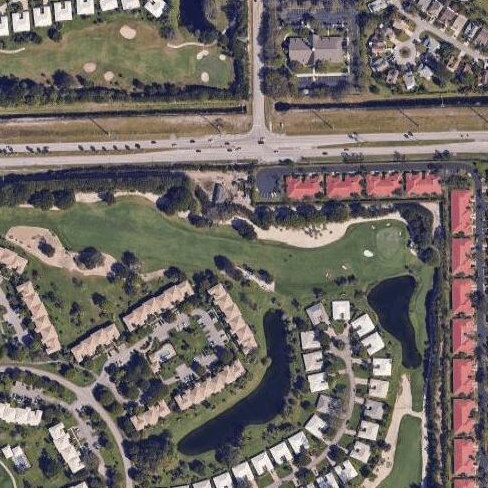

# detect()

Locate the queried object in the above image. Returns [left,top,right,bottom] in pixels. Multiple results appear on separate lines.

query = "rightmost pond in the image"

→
[369,276,421,368]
